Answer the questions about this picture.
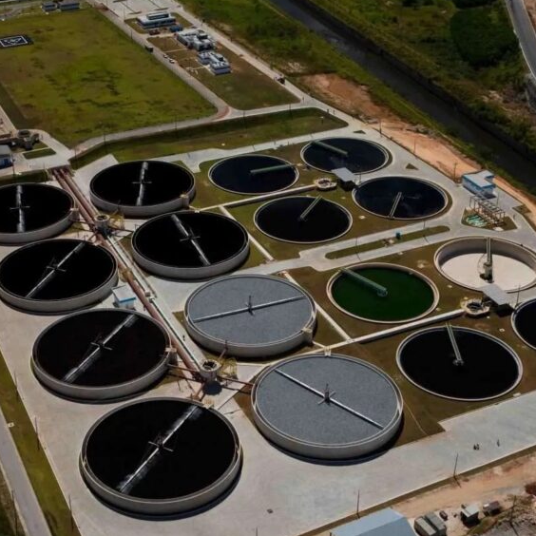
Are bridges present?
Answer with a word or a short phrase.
Yes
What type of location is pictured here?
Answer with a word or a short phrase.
industrial area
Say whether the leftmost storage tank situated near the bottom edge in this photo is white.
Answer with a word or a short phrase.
No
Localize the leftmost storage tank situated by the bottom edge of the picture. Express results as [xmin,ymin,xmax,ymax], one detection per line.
[81,396,243,517]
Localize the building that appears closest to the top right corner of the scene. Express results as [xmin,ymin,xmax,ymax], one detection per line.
[463,170,495,203]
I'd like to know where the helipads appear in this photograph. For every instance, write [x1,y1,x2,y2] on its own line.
[0,34,33,49]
